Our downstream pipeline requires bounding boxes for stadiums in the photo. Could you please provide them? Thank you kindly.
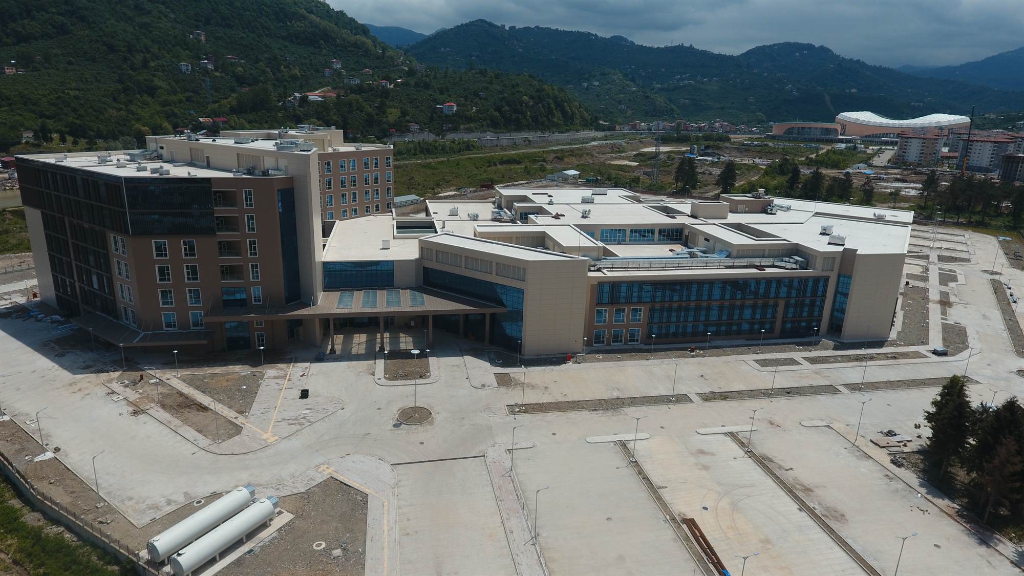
[830,111,968,152]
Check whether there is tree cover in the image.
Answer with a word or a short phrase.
Yes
